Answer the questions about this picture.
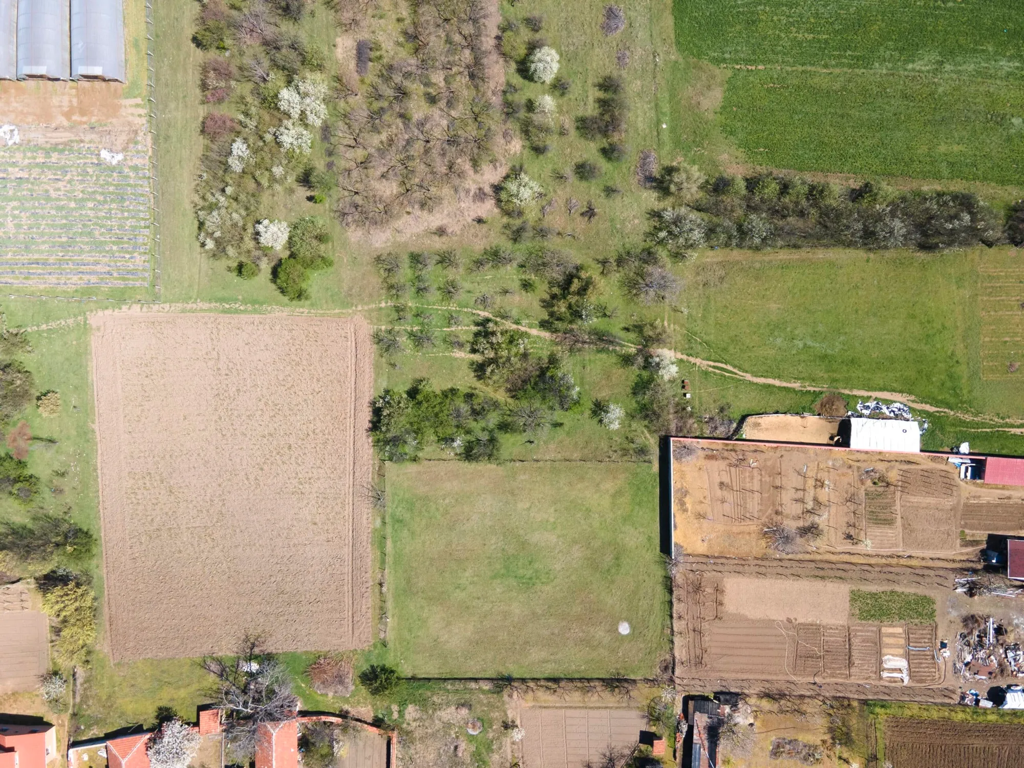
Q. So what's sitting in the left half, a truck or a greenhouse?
greenhouse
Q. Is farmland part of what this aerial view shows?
Yes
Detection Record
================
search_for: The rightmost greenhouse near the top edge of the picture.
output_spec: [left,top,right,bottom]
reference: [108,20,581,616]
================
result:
[73,0,126,82]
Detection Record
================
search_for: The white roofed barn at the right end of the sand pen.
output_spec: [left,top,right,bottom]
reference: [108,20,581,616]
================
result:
[844,418,920,452]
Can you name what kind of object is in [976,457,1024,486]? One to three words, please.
building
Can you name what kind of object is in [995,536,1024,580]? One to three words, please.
house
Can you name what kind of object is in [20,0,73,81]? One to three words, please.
greenhouse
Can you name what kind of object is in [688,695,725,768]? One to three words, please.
barn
